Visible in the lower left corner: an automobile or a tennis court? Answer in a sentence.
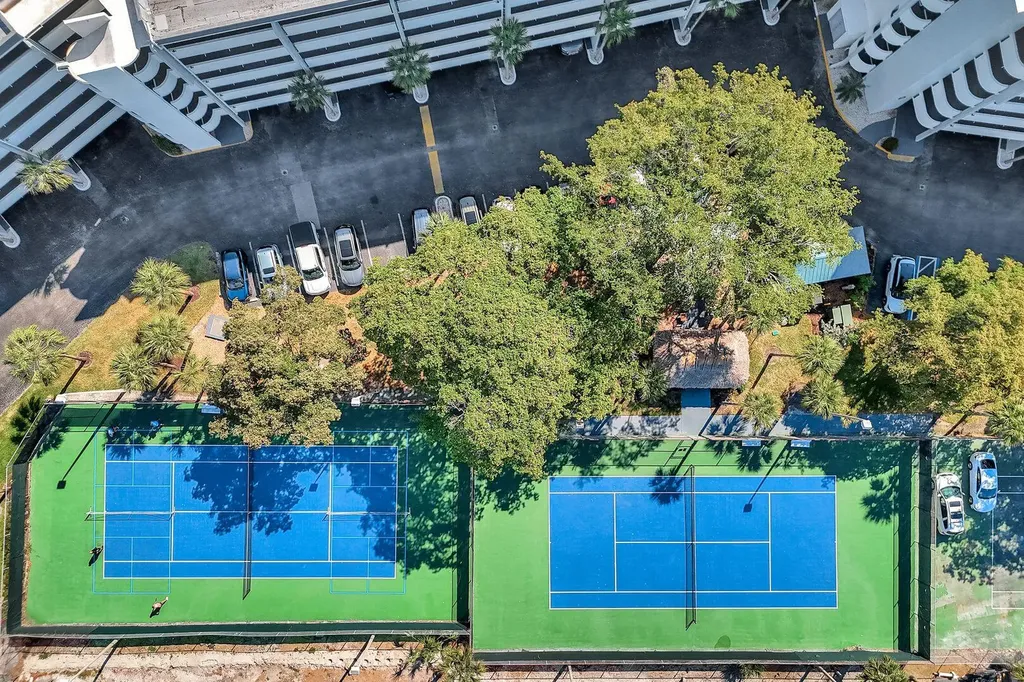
You can see a tennis court in the lower left corner.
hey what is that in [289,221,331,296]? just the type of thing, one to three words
truck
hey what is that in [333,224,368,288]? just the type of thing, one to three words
car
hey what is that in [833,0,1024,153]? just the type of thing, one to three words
building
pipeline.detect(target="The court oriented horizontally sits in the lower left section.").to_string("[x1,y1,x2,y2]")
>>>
[28,404,472,625]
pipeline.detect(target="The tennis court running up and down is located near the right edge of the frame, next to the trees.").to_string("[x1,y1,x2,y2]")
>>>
[931,438,1024,655]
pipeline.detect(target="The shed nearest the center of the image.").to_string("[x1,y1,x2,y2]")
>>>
[650,321,753,394]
